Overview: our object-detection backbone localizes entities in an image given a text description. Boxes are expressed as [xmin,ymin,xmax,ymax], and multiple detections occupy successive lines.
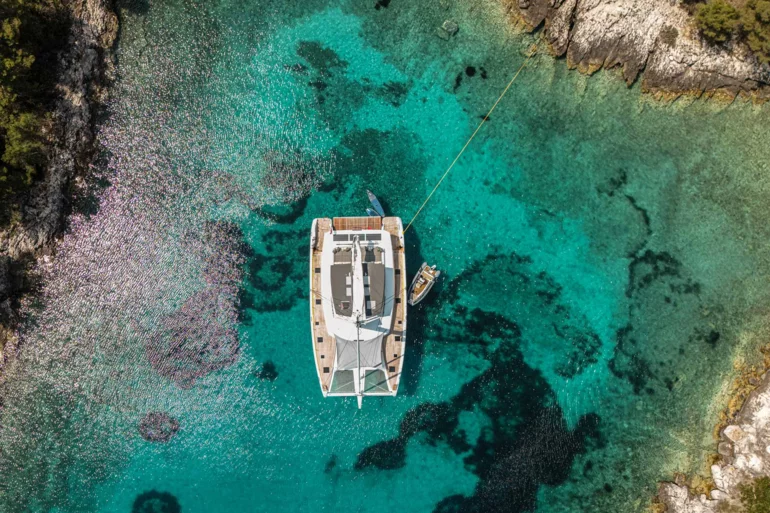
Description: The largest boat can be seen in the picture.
[310,217,408,408]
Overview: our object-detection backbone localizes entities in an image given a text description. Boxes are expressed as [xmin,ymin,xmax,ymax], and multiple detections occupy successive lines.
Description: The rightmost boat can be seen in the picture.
[408,263,439,305]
